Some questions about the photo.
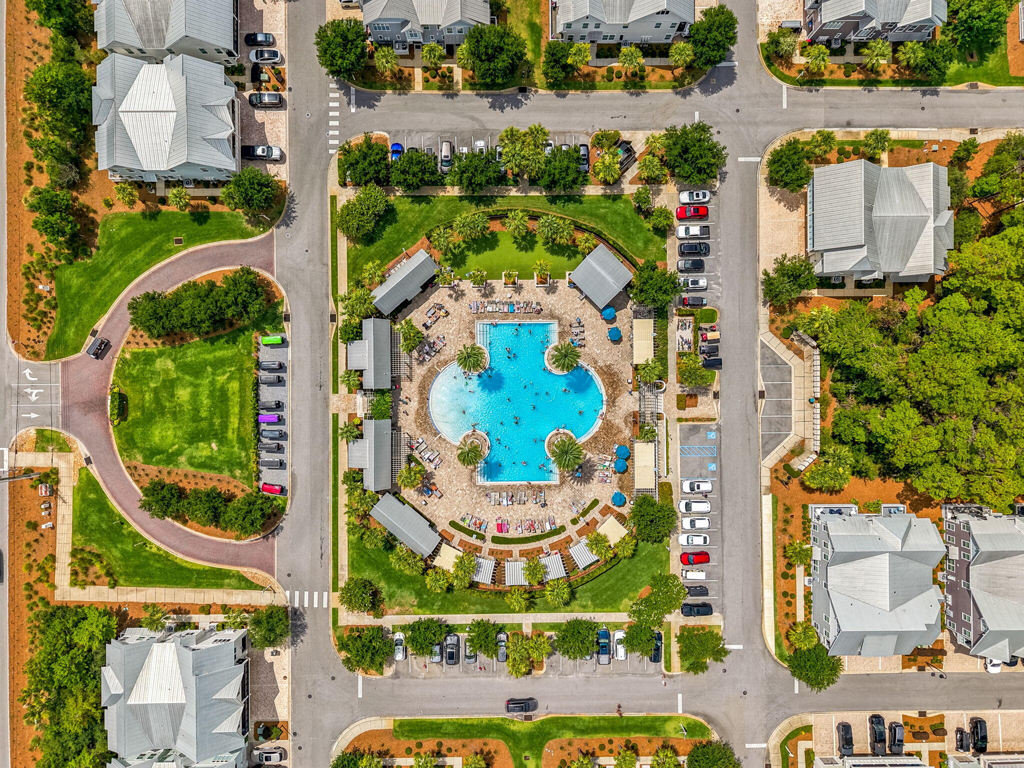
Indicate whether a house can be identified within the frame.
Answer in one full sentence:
Yes, the frame does contain a house.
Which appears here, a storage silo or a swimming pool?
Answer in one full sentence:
I can see a swimming pool in this picture.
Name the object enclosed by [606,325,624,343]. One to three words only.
umbrella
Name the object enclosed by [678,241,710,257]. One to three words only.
car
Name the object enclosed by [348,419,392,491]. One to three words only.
building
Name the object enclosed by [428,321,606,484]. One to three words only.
swimming pool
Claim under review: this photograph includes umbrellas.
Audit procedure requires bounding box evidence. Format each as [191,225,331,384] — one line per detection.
[611,491,628,508]
[612,458,630,475]
[615,444,632,460]
[606,325,624,343]
[600,304,617,321]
